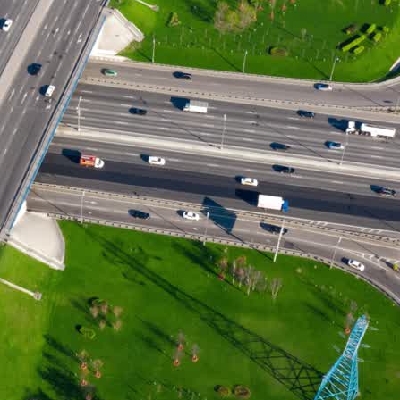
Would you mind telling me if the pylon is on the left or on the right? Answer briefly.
right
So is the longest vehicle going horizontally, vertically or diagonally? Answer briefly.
horizontally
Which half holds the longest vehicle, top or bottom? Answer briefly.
top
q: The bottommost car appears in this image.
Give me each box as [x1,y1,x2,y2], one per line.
[345,258,365,272]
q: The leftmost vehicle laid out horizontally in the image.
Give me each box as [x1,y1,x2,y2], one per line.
[79,152,105,166]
